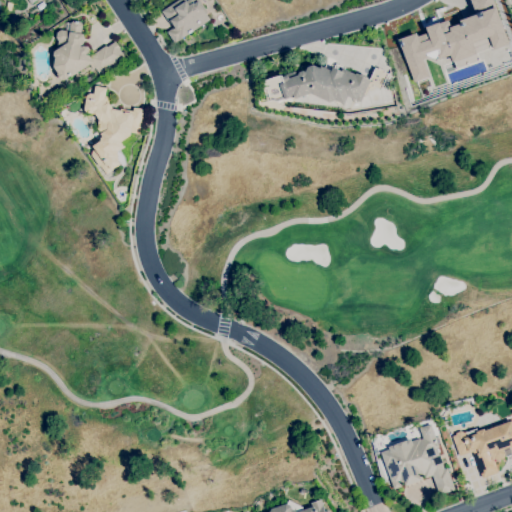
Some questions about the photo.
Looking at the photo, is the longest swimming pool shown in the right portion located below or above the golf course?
above it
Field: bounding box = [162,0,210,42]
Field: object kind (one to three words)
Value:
house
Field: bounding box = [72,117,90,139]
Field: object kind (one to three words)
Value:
swimming pool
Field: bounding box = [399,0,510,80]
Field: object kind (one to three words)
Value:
house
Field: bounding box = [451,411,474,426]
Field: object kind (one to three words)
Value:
swimming pool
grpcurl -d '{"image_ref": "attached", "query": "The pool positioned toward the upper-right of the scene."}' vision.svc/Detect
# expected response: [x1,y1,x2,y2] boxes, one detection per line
[448,62,487,84]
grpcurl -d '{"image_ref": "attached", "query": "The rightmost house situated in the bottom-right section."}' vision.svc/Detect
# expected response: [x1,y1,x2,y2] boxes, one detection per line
[452,420,512,480]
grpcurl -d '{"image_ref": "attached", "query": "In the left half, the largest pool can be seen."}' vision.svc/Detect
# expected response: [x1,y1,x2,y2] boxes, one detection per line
[34,46,50,76]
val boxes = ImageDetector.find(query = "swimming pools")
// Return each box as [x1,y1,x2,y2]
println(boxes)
[388,431,408,440]
[451,411,474,426]
[34,46,50,76]
[72,117,90,139]
[448,62,487,84]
